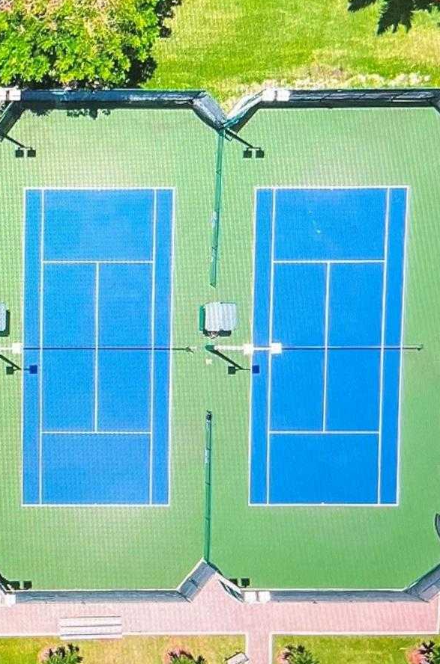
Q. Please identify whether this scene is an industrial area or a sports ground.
sports ground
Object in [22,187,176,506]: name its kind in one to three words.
tennis court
